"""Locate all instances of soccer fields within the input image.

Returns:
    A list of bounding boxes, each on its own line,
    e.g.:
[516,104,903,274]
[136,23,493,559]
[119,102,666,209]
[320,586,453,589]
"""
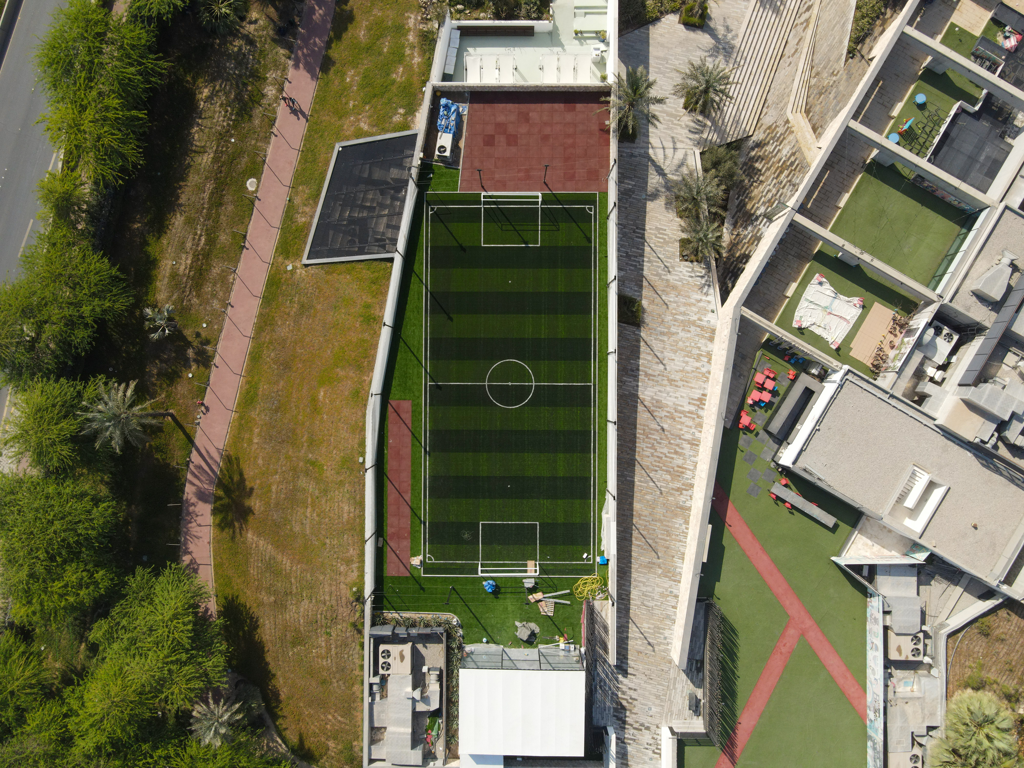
[422,192,598,577]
